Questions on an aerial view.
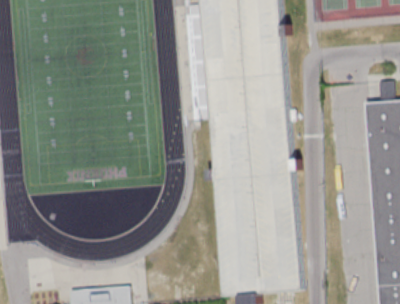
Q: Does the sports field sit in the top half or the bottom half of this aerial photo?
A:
top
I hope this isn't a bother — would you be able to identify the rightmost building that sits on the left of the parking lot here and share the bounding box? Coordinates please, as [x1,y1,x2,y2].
[198,0,306,304]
